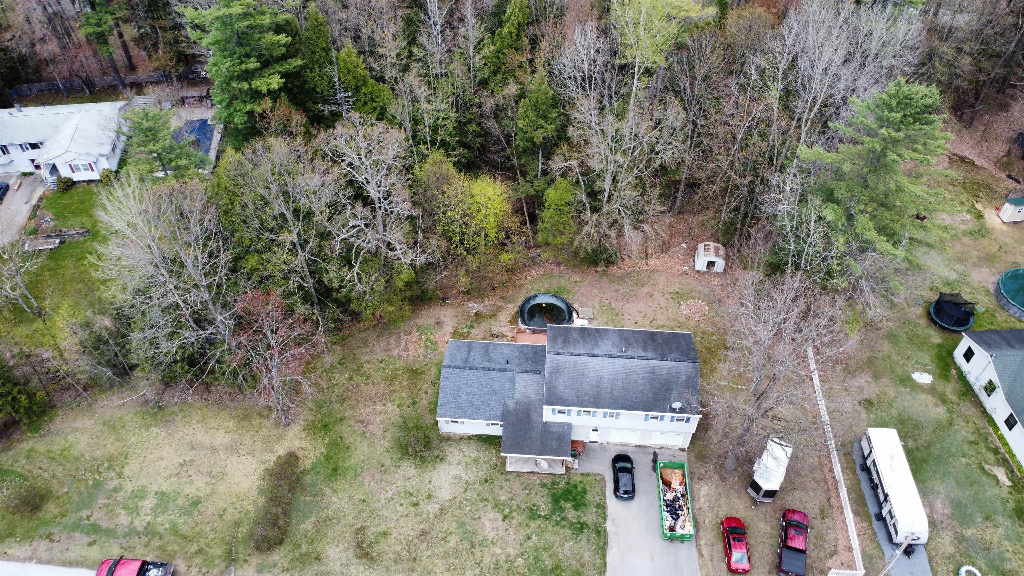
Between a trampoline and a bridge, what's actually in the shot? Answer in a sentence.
Looking from above, you can make out a trampoline.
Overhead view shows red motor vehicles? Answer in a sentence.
Yes, I can see a red motor vehicle in this picture.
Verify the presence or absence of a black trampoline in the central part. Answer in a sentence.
No, no black trampoline appears in the central part.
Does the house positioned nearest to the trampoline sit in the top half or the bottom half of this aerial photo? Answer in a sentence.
Seen from above, the house positioned nearest to the trampoline lies in the bottom half of the view.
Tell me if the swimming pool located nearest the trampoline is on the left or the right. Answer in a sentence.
The swimming pool located nearest the trampoline appears in the right half of the scene.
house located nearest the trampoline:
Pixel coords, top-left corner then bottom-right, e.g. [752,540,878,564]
[952,331,1024,459]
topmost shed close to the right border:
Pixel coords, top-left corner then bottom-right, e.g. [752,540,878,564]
[985,193,1024,222]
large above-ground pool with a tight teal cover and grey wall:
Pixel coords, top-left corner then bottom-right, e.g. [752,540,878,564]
[993,265,1024,330]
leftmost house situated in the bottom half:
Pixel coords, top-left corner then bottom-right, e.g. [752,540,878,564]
[435,322,704,478]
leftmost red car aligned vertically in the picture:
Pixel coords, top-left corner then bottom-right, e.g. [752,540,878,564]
[723,516,753,576]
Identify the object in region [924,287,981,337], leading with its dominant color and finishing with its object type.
black trampoline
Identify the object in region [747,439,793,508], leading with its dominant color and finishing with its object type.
white trailer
